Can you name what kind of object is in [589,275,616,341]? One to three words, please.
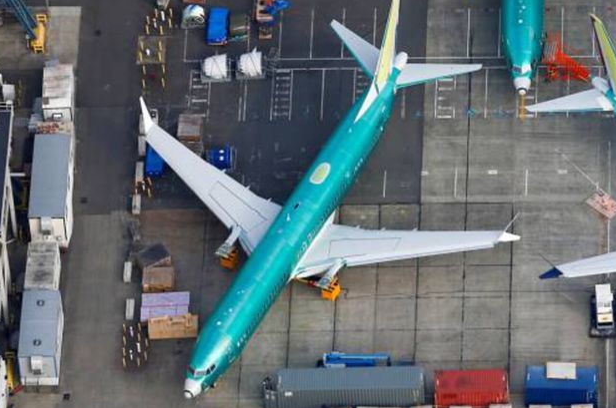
work vehicle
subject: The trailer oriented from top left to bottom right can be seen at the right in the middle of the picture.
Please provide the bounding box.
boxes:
[554,149,616,220]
